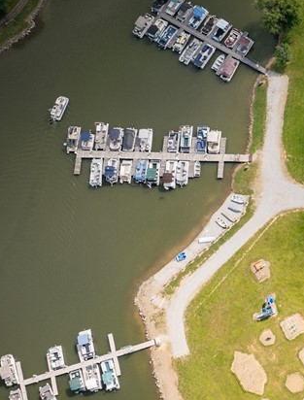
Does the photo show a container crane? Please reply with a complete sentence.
No, there's no container crane here.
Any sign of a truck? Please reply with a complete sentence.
No, there is no truck in the image.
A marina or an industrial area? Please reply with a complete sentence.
What you see here is a marina.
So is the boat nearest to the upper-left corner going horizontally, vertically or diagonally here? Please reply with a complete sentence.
In this picture, the boat nearest to the upper-left corner lies diagonally.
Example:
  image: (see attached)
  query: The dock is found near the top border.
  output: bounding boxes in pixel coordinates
[145,0,271,77]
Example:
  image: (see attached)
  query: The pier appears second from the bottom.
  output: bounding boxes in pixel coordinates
[74,134,252,178]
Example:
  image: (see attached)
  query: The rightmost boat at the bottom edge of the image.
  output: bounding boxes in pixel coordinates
[101,359,119,392]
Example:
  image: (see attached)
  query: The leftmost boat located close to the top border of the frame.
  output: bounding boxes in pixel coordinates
[132,13,155,40]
